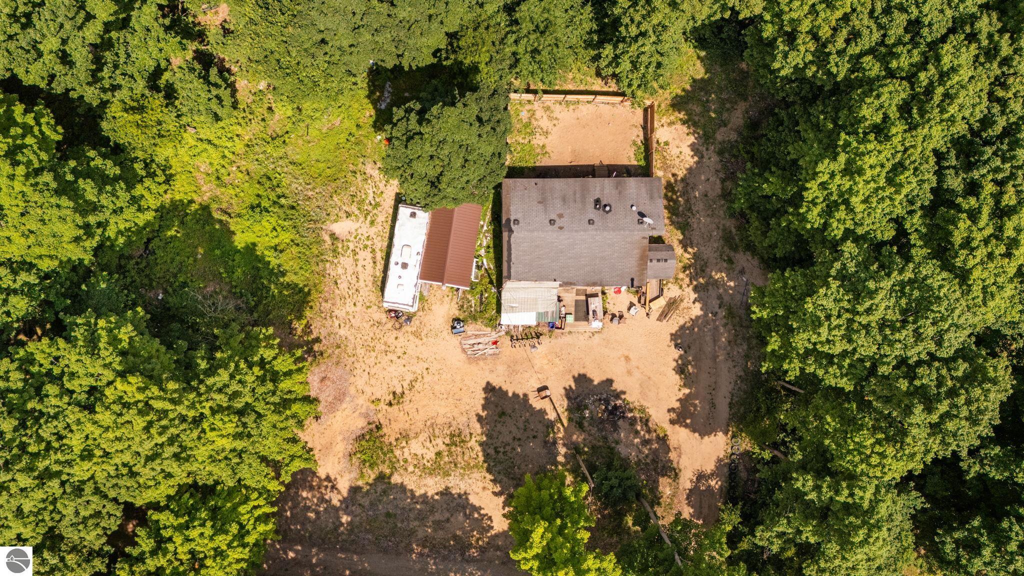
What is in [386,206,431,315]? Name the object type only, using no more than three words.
trailer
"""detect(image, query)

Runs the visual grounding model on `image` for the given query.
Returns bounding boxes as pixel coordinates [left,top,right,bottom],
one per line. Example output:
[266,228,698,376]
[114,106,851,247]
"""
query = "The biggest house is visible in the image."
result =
[502,178,676,289]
